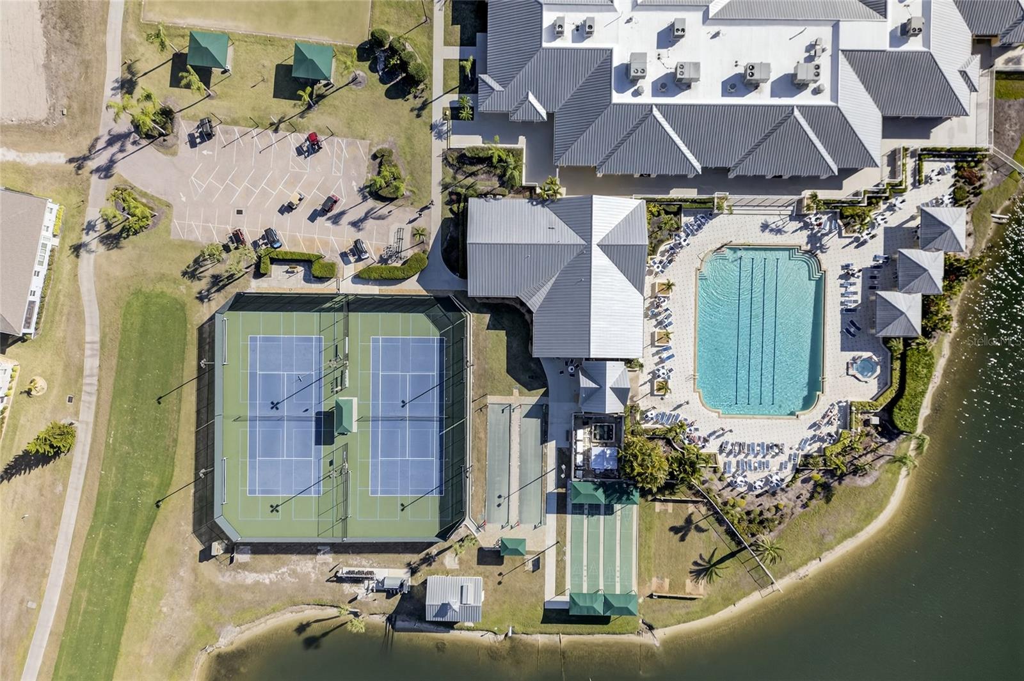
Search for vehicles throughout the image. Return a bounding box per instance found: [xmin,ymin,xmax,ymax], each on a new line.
[319,194,337,210]
[286,191,303,208]
[228,228,244,245]
[261,226,279,246]
[351,236,367,256]
[196,119,213,137]
[305,133,320,150]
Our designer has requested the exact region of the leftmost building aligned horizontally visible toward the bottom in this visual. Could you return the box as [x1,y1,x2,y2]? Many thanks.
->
[340,568,410,593]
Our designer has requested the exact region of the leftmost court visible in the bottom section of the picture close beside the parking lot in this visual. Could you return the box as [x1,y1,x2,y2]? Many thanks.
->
[223,294,348,537]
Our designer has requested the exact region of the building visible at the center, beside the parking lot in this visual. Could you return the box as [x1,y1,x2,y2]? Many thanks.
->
[468,195,648,358]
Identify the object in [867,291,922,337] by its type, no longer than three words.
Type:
building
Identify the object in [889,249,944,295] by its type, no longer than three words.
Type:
building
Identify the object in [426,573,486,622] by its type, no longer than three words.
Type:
shed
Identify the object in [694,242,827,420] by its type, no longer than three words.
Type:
swimming pool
